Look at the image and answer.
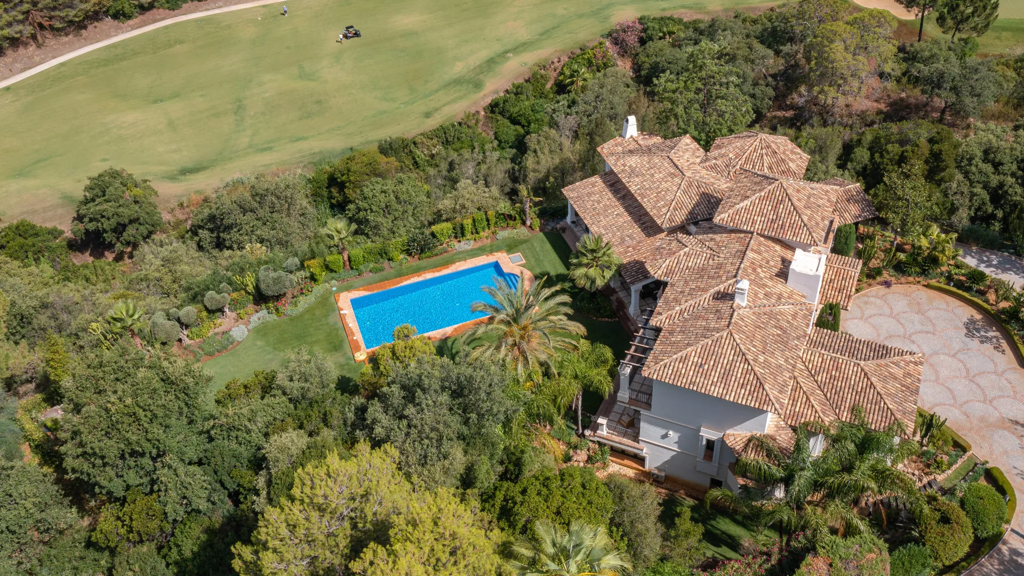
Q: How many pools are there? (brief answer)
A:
1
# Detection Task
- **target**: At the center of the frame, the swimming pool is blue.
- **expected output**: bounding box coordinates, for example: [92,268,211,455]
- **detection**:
[334,244,540,364]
